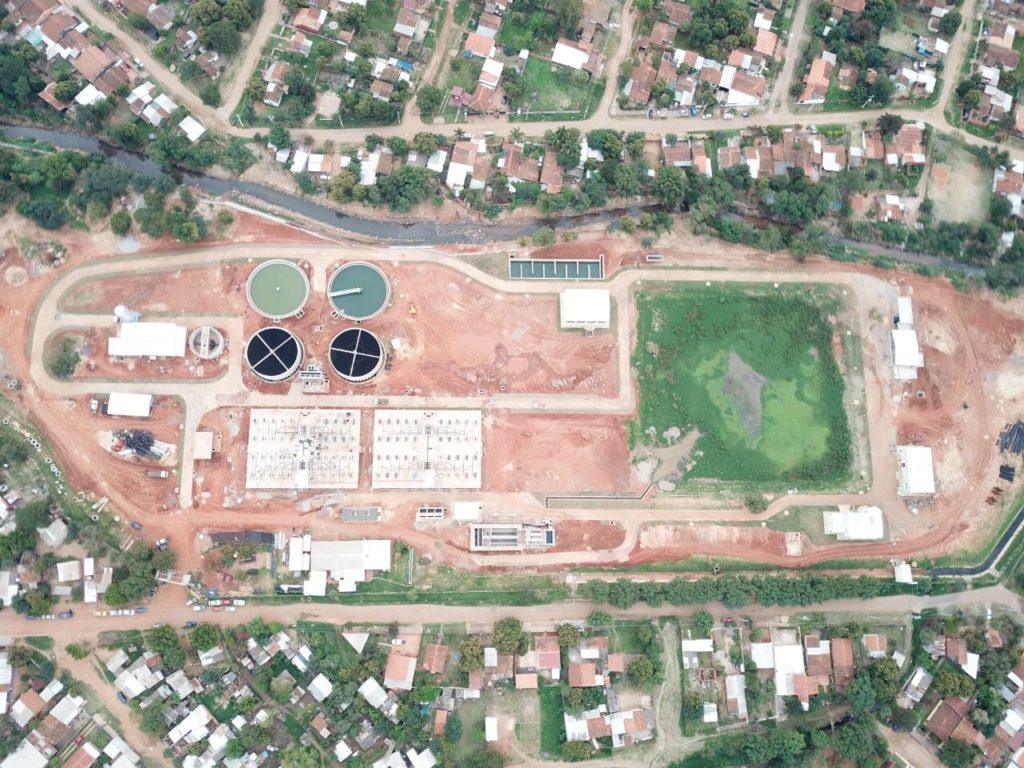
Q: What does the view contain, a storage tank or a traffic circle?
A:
storage tank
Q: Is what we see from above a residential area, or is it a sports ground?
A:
residential area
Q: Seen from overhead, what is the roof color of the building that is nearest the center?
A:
white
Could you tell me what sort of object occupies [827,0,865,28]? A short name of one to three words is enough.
house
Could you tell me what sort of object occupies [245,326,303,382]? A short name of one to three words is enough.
storage tank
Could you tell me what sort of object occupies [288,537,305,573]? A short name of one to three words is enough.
building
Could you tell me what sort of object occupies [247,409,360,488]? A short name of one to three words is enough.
storage tank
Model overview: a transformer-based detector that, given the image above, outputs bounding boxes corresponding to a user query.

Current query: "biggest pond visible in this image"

[632,285,852,489]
